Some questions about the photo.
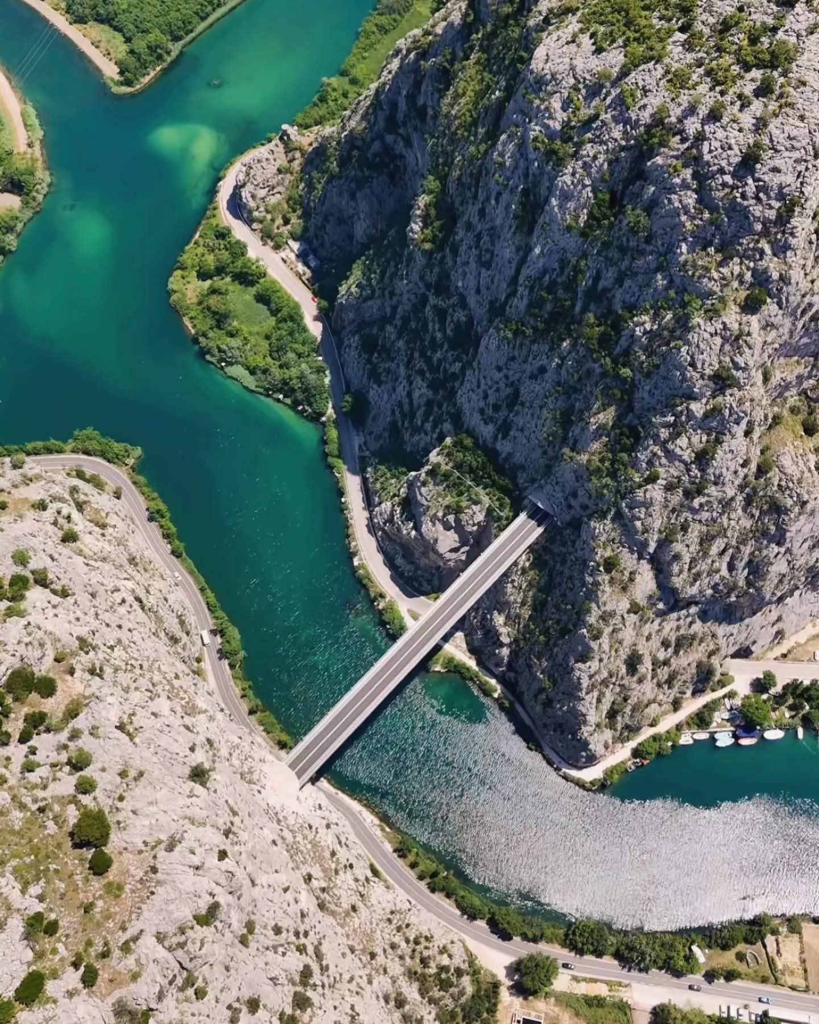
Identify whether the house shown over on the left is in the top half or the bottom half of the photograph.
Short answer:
top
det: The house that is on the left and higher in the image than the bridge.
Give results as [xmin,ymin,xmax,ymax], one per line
[291,238,322,268]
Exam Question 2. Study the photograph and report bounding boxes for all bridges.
[278,507,545,786]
